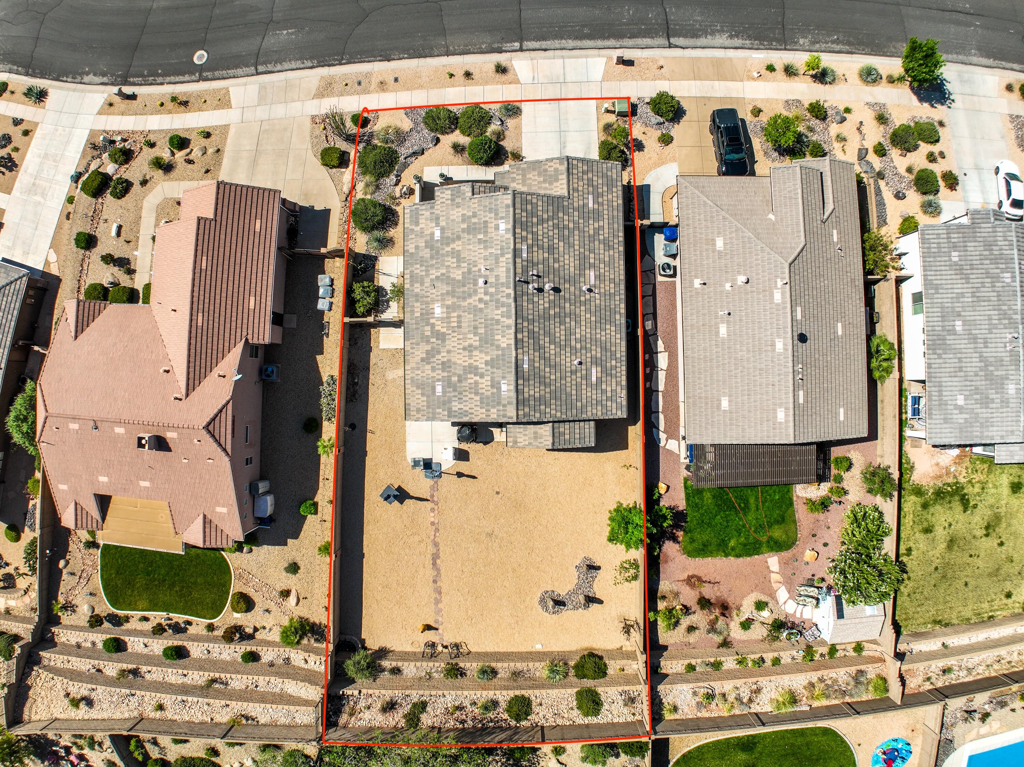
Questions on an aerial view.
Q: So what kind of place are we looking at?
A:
residential area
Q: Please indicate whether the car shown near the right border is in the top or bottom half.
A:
top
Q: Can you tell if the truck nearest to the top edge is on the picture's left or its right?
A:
right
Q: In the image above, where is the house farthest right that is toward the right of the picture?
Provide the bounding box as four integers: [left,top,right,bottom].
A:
[900,208,1024,464]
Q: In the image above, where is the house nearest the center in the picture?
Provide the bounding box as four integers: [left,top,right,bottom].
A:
[402,155,627,450]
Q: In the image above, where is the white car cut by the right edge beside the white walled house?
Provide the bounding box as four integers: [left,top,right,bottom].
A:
[989,158,1024,224]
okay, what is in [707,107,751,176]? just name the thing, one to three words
truck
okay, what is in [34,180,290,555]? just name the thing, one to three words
house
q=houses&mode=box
[673,157,868,445]
[0,260,51,473]
[900,208,1024,464]
[402,155,627,450]
[34,180,290,555]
